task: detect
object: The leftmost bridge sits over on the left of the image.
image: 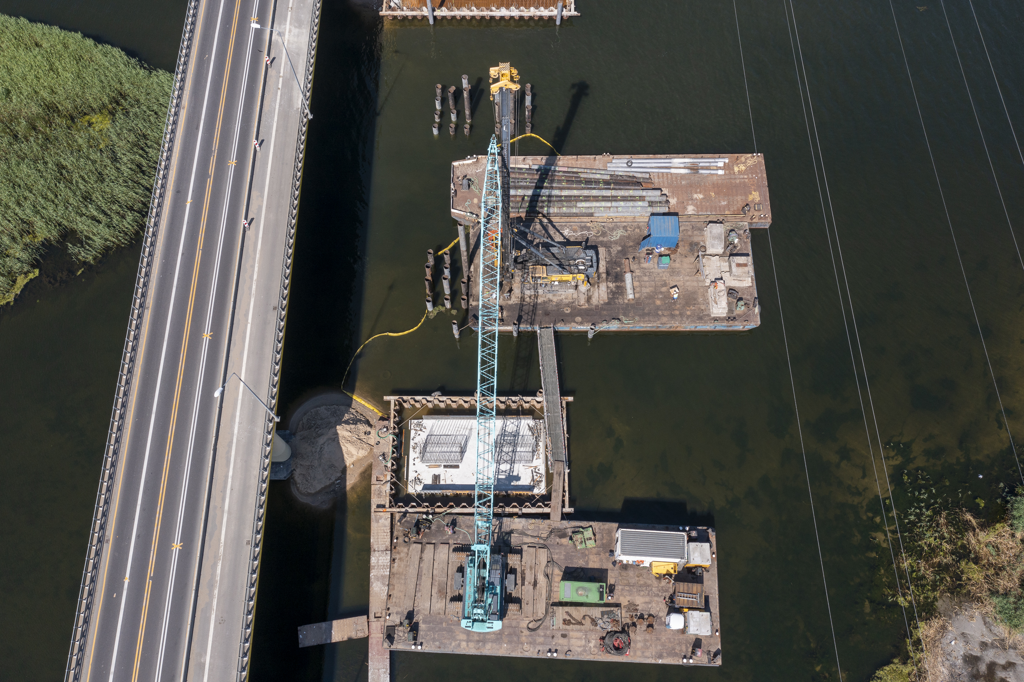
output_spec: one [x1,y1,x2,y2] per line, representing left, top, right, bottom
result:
[63,0,324,682]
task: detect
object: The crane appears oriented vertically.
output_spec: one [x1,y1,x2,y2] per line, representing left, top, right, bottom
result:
[446,130,521,630]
